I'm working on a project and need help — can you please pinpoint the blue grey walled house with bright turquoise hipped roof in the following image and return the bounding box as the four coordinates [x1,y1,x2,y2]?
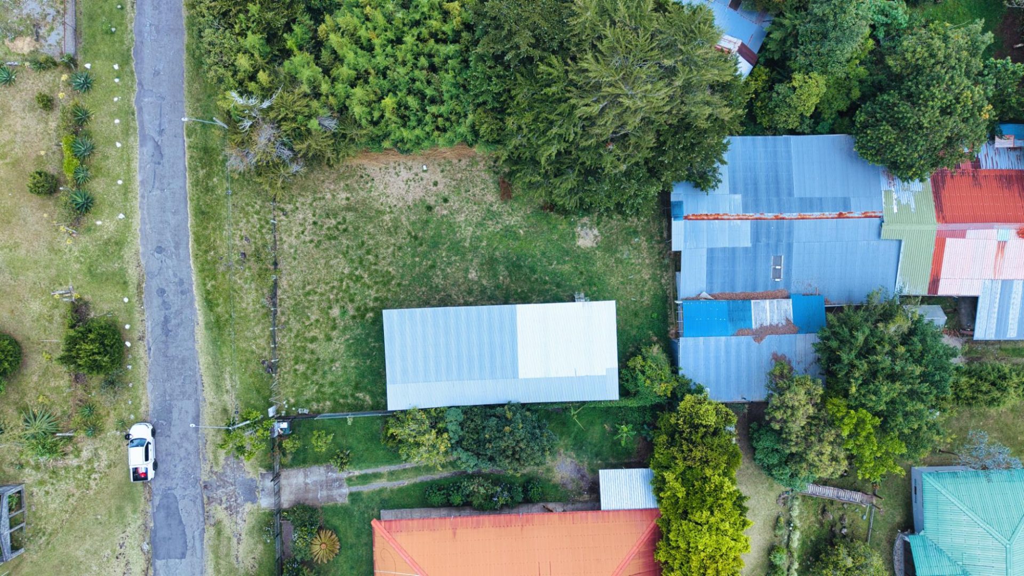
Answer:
[910,463,1024,576]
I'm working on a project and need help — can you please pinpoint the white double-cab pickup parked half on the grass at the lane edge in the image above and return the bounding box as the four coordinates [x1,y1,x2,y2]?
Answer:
[125,422,157,484]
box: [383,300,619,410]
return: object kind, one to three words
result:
shed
